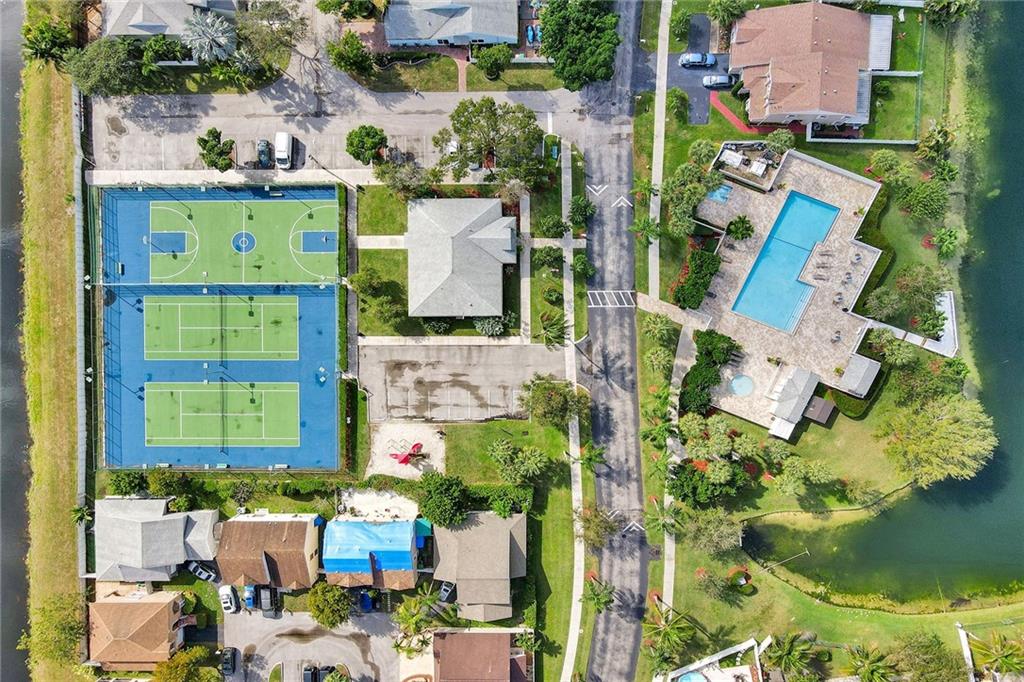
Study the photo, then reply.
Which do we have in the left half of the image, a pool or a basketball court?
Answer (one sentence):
The one visible in the left half of the image is a basketball court.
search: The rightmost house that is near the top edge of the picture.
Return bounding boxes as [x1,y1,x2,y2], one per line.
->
[724,2,870,125]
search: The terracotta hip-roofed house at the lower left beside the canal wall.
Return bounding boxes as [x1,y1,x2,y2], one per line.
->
[89,594,181,671]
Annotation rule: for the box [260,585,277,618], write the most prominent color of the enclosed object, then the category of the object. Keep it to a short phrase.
gray vehicle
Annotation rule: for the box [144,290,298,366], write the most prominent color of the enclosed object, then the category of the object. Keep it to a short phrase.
green tennis court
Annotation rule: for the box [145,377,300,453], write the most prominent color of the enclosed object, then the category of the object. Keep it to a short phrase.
green tennis court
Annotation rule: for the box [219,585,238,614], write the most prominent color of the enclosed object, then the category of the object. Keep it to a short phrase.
white car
